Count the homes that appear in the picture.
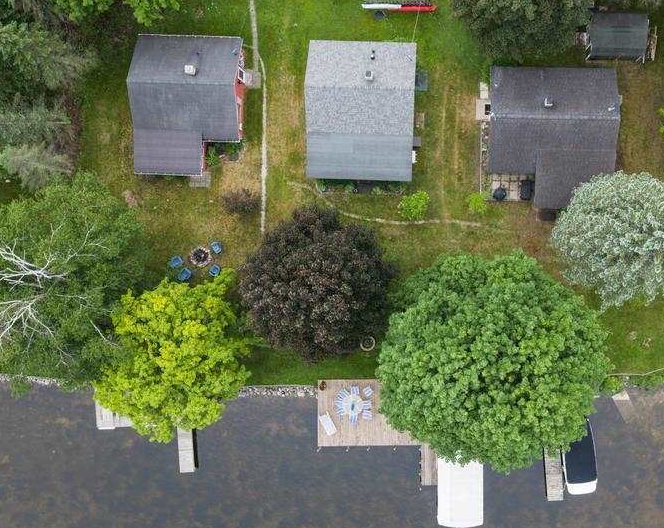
3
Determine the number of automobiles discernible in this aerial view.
0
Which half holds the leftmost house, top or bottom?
top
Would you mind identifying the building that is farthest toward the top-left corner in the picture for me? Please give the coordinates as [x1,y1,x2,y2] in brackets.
[128,33,248,177]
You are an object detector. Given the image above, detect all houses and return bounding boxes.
[490,64,623,211]
[128,33,248,177]
[304,39,418,183]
